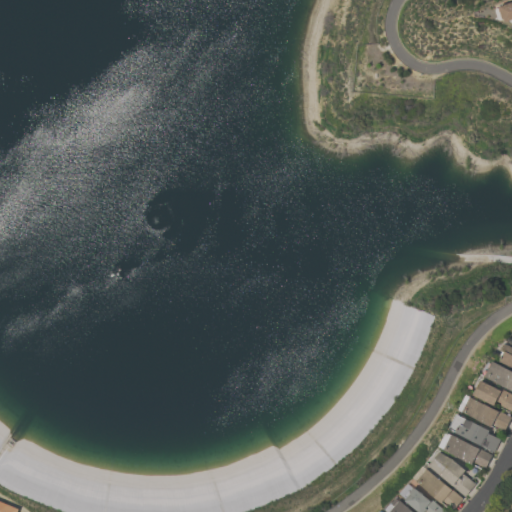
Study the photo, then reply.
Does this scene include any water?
Yes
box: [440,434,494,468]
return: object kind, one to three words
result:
house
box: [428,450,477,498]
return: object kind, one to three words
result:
house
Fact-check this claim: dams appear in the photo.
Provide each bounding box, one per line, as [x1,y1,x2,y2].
[0,297,434,512]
